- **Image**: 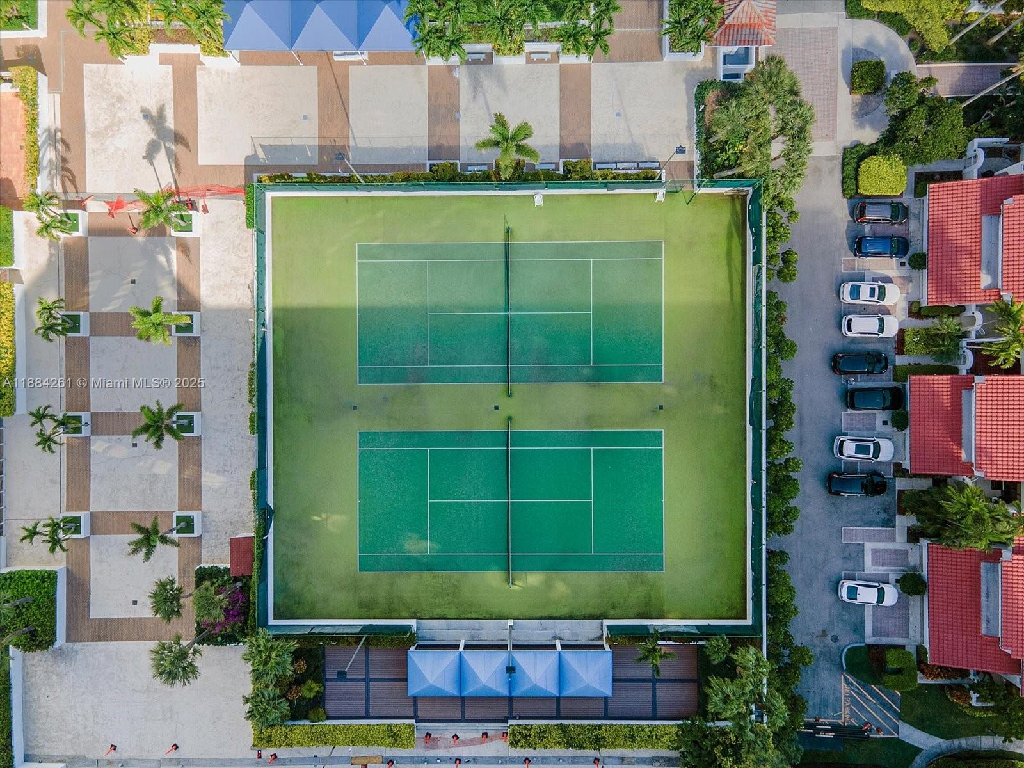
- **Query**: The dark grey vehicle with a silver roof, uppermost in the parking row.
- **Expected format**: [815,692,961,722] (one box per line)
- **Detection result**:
[853,197,908,228]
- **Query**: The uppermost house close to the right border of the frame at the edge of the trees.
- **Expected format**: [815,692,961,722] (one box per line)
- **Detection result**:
[921,173,1024,305]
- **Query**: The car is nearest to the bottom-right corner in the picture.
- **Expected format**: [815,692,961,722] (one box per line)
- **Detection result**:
[836,577,897,610]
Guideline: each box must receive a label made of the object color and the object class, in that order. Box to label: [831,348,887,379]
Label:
black car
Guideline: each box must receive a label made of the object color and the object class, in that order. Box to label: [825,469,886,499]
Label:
black car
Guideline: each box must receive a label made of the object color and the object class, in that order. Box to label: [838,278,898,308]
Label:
white car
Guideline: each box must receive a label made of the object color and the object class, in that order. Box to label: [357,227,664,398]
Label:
green tennis court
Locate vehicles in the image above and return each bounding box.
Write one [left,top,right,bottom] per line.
[831,348,887,379]
[838,278,898,308]
[853,197,908,228]
[840,310,897,341]
[825,469,886,499]
[852,231,908,261]
[846,384,903,414]
[832,435,893,465]
[836,577,897,610]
